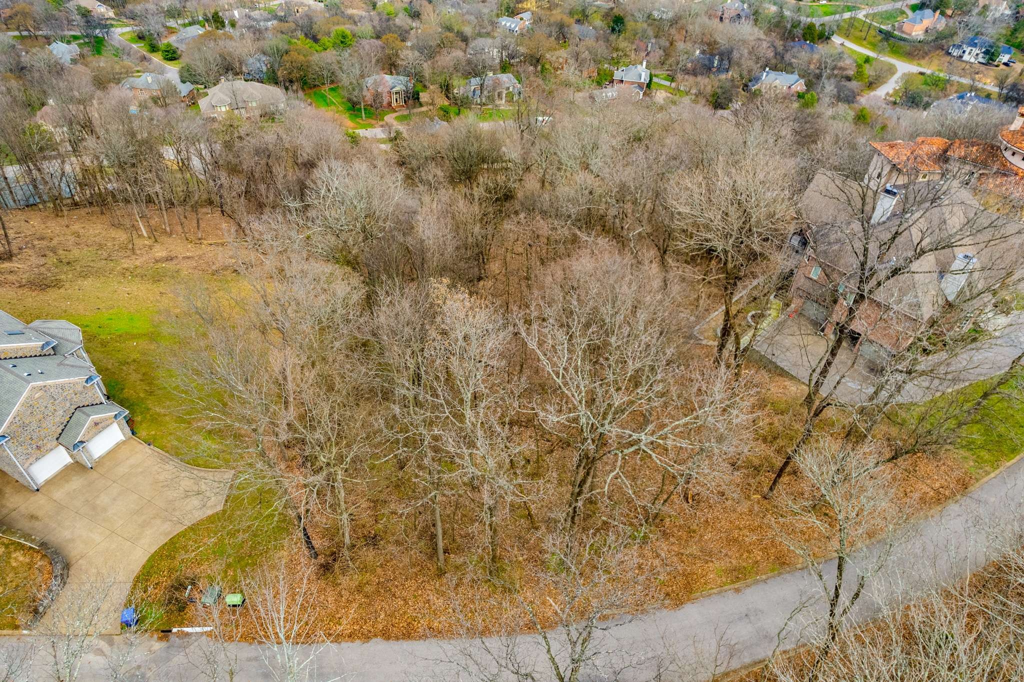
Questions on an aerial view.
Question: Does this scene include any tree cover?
Yes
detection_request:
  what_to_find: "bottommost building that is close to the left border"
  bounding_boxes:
[0,300,141,491]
